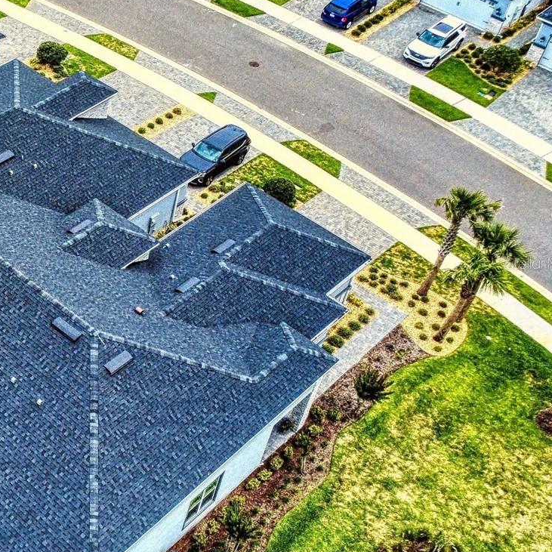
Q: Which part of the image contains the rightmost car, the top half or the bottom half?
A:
top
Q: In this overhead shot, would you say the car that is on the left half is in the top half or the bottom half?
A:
top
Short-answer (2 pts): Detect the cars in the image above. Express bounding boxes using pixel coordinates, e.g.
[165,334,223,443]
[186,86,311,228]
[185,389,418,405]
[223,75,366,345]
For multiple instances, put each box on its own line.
[320,0,379,25]
[406,12,471,65]
[182,123,256,186]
